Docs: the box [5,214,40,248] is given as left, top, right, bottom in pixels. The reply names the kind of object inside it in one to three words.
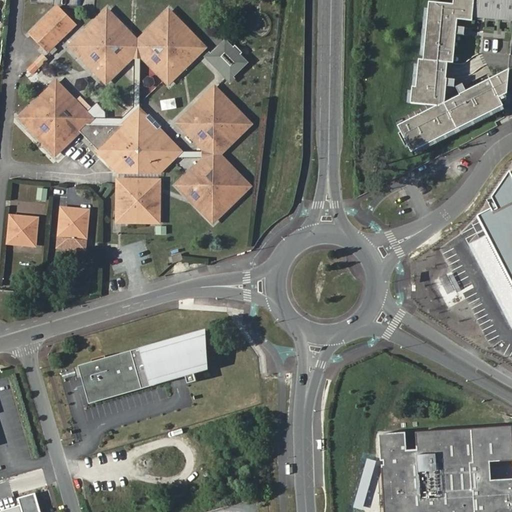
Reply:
house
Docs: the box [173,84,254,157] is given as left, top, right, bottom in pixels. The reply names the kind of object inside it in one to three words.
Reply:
building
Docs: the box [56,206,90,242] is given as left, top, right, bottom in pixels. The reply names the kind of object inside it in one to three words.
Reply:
house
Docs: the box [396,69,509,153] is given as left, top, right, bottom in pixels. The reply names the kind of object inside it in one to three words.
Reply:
building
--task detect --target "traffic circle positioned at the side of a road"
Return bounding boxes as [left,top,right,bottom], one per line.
[243,200,404,368]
